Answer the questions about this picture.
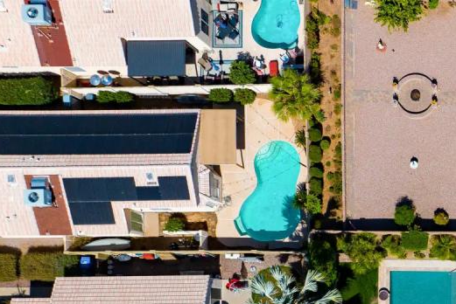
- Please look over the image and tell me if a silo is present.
No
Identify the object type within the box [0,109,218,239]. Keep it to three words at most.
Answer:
house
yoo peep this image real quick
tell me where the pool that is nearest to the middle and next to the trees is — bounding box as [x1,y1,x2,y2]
[235,137,304,245]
